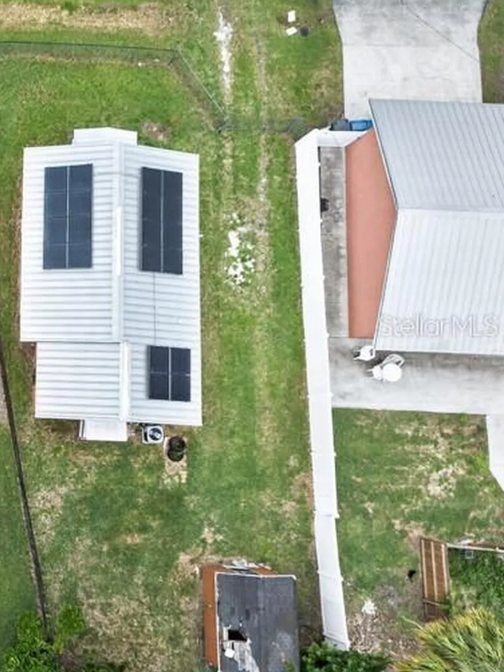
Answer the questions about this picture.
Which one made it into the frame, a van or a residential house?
residential house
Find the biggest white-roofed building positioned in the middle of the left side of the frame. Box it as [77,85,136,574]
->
[17,125,203,442]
